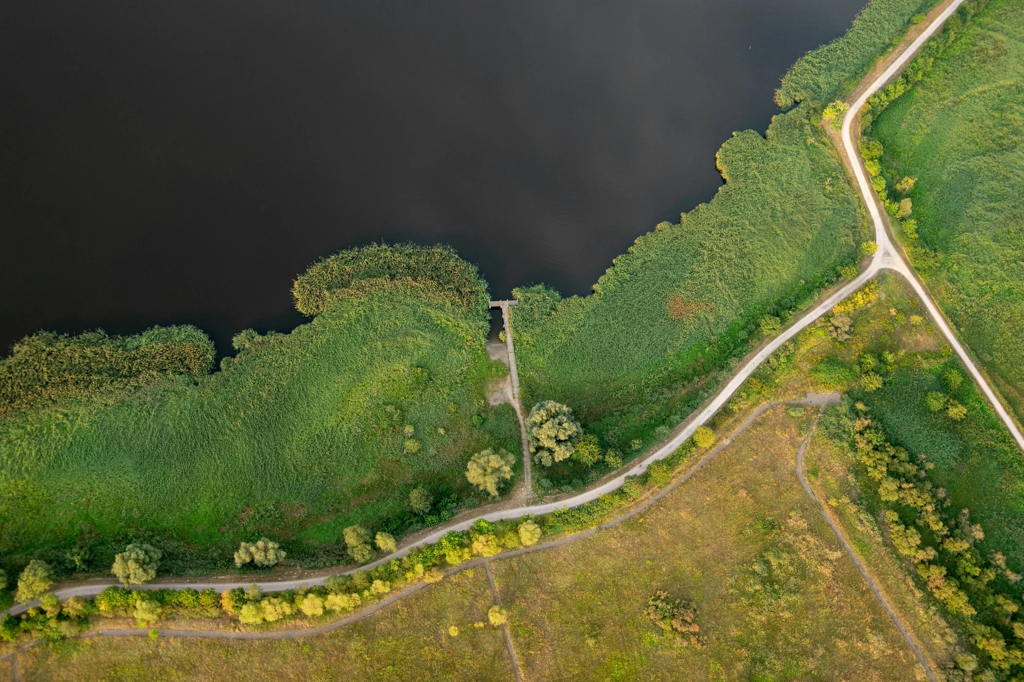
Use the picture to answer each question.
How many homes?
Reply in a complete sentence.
The count of homes is 0.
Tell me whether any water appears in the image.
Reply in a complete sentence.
Yes, water shows up in the scene.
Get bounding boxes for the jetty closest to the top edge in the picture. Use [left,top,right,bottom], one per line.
[489,299,519,399]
